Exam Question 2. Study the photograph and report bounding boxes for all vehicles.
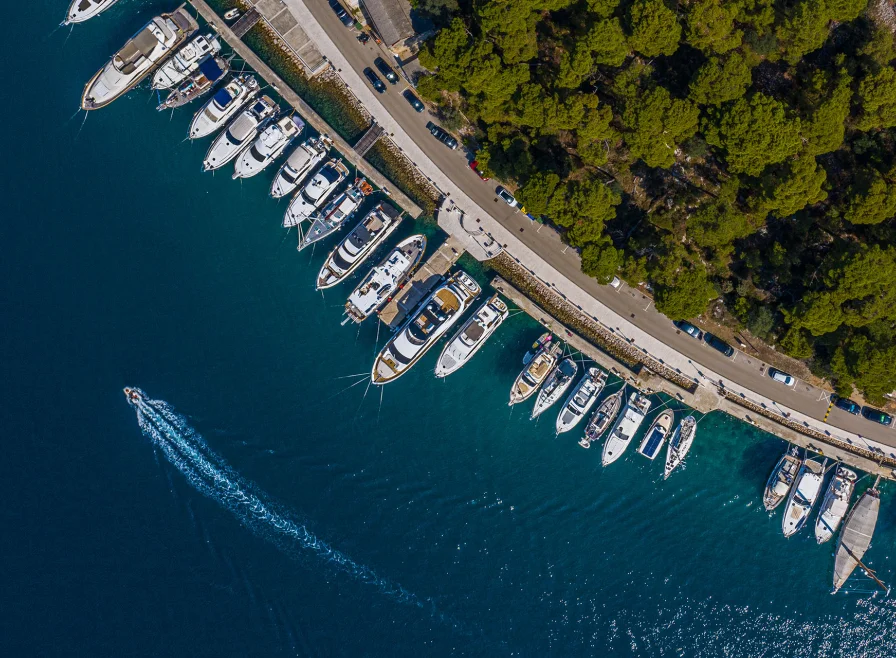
[429,122,456,149]
[358,35,369,40]
[376,59,399,85]
[704,334,732,355]
[832,396,859,412]
[497,187,520,209]
[330,0,353,24]
[676,319,701,340]
[403,90,425,114]
[365,68,387,94]
[862,406,890,424]
[769,368,794,385]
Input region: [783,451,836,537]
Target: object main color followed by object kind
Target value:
white boat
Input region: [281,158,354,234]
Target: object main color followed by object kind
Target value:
white boat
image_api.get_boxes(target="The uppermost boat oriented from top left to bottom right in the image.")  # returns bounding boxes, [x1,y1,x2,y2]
[245,74,258,88]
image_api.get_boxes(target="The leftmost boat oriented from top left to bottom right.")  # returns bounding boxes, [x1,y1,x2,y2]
[125,388,141,404]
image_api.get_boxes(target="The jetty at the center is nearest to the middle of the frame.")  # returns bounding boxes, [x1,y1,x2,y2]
[378,235,466,326]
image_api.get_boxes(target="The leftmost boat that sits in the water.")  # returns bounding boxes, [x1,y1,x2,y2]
[58,0,124,38]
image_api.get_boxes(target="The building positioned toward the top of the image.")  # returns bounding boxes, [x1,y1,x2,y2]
[360,0,415,49]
